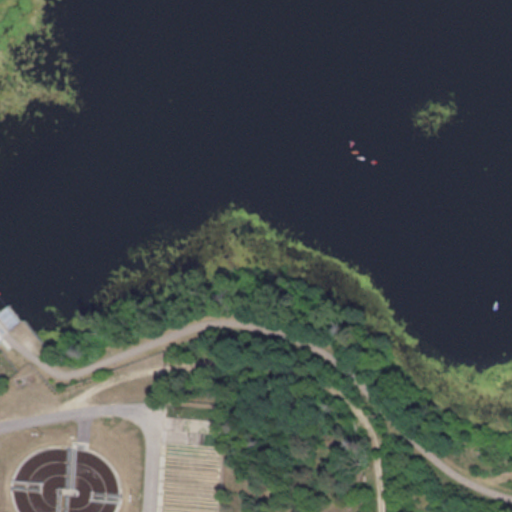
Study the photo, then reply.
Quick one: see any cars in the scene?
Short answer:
No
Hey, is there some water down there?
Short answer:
Yes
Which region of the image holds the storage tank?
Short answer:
bottom left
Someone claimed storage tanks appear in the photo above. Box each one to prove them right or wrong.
[12,442,122,512]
